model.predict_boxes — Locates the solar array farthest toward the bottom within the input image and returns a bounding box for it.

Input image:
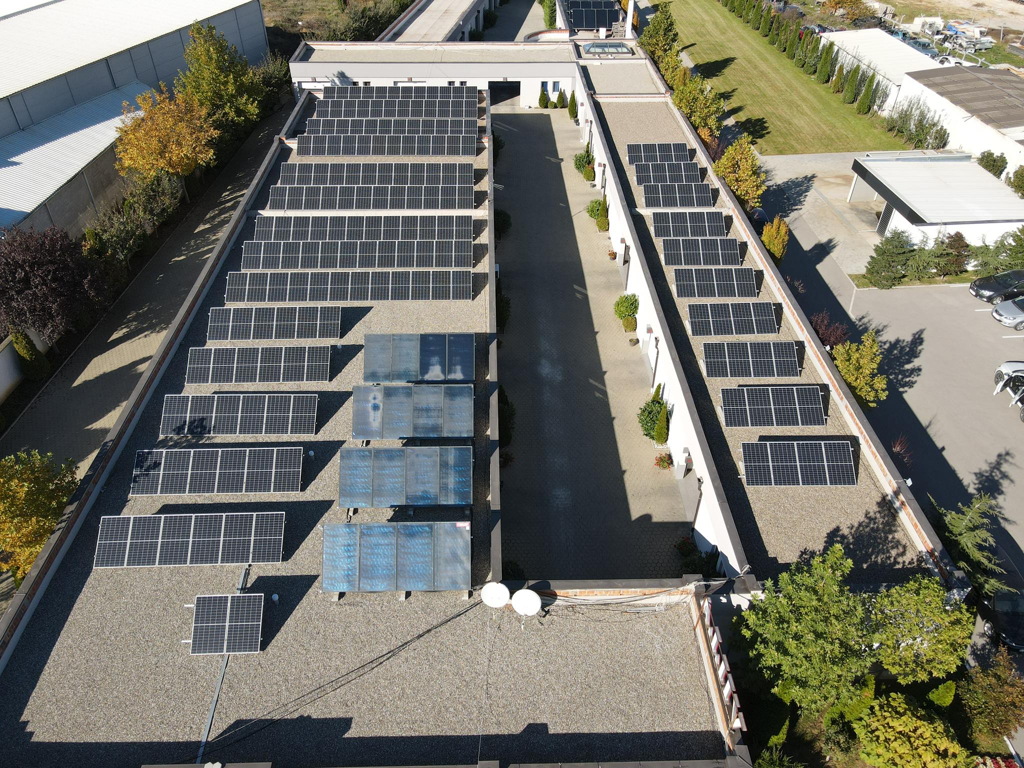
[172,596,270,656]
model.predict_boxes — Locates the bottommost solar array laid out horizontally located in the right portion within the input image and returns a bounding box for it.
[736,443,859,489]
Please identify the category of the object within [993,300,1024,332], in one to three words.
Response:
car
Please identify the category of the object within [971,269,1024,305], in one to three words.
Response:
car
